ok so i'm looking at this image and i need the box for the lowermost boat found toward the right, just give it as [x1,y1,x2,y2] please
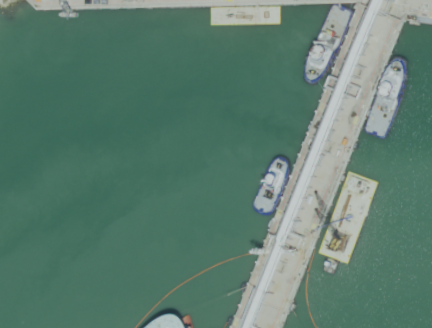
[325,258,338,275]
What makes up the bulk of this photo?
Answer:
water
